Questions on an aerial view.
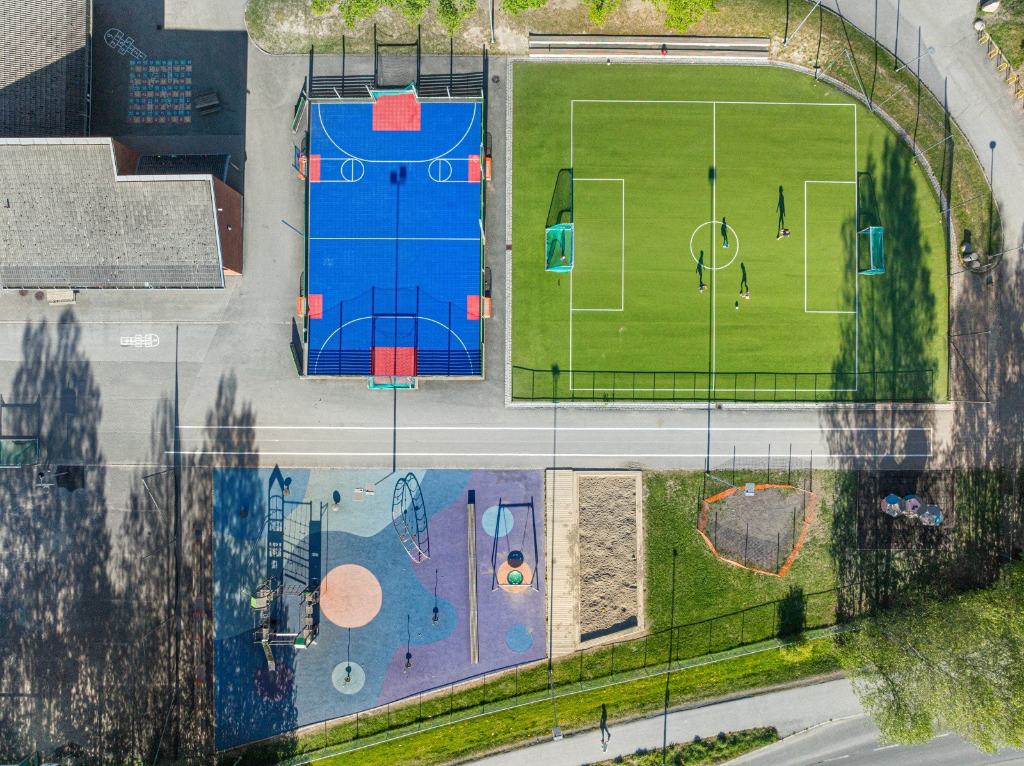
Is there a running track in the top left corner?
No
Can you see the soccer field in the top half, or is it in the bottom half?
top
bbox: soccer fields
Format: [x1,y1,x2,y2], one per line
[513,62,949,402]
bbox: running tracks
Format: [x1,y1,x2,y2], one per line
[165,426,932,456]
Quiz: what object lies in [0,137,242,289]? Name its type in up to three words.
building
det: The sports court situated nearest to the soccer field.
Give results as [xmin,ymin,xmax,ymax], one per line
[300,89,488,387]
